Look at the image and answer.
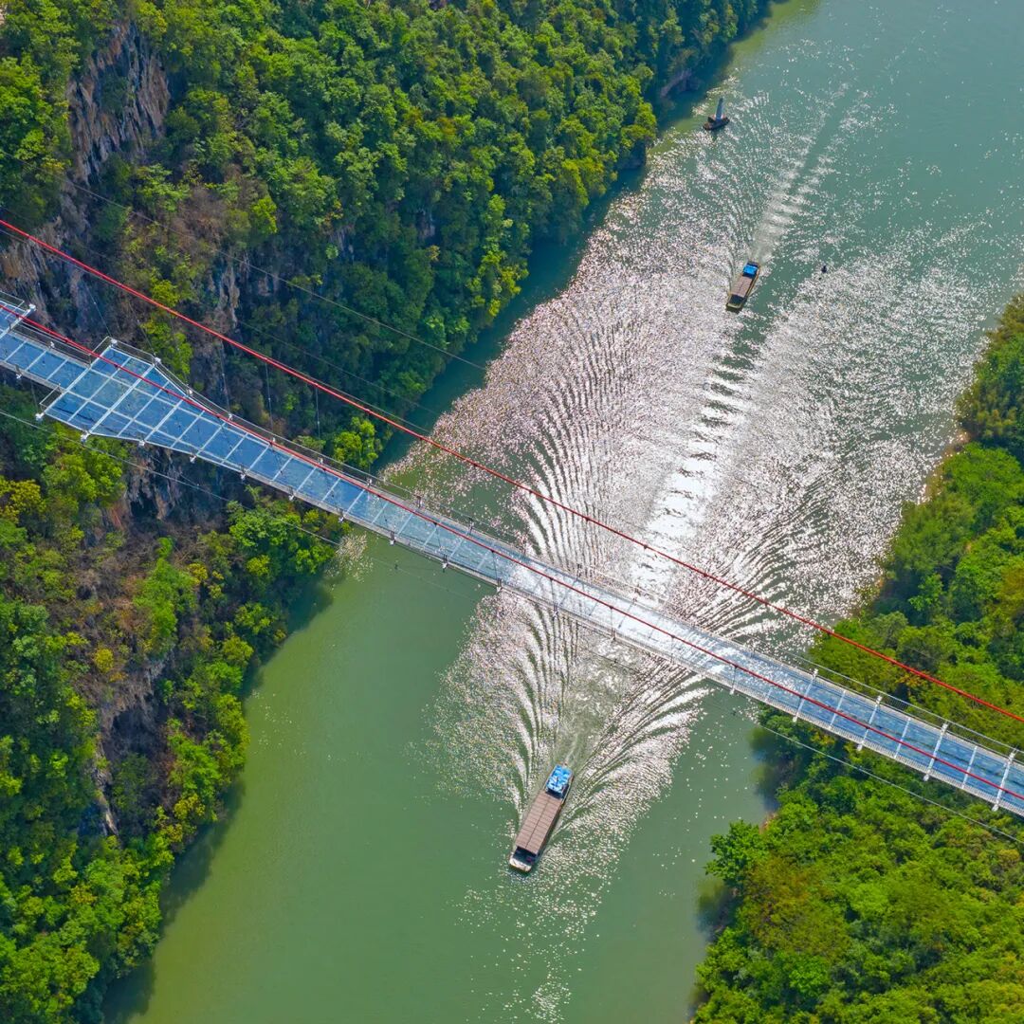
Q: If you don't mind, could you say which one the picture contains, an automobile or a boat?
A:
boat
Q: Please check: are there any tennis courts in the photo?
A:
No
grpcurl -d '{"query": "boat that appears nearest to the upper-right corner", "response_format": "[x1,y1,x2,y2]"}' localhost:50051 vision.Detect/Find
[706,100,732,128]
